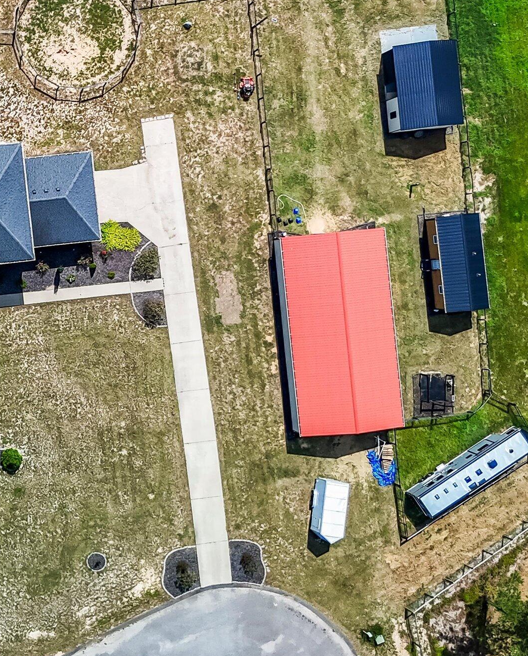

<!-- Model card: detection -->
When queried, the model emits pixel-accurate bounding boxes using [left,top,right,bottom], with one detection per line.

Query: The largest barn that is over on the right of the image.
[275,227,406,437]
